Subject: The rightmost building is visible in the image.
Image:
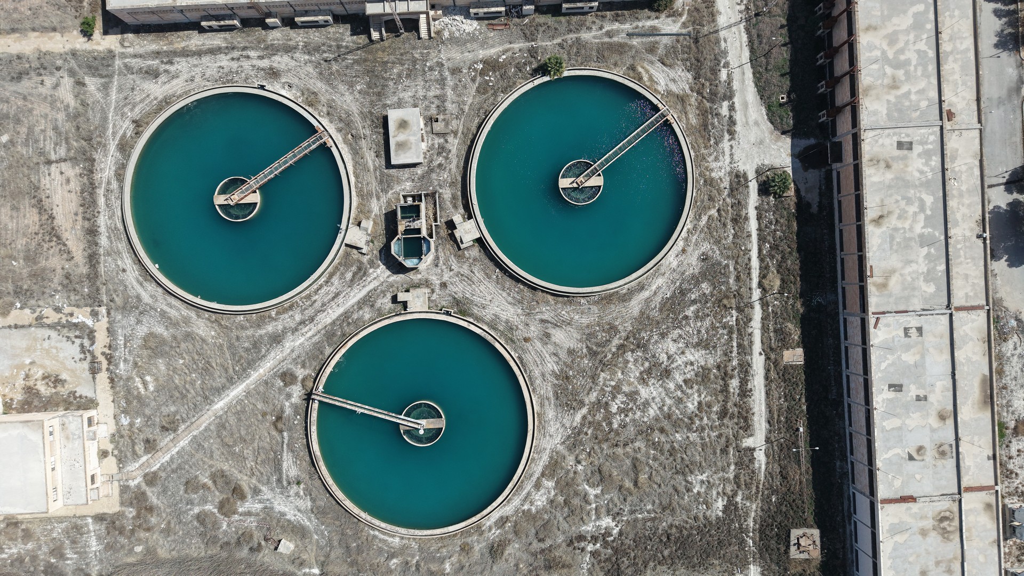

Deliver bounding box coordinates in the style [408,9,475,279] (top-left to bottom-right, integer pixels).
[826,0,1004,576]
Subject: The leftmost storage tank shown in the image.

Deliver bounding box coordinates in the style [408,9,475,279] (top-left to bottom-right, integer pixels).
[121,77,357,316]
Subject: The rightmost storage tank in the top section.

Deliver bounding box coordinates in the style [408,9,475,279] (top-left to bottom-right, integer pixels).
[465,66,697,298]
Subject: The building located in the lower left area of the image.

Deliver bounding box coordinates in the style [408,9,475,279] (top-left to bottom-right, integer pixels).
[0,410,113,515]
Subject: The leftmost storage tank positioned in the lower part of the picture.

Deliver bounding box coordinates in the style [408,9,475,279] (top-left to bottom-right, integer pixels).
[307,302,538,539]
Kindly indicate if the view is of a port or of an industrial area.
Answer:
industrial area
